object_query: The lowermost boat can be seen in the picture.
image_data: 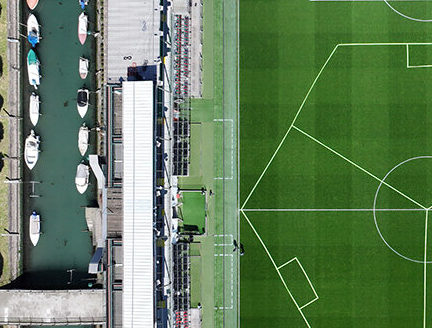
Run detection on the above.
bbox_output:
[29,212,42,247]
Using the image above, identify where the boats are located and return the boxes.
[75,163,90,195]
[29,212,42,247]
[26,14,40,45]
[77,125,89,156]
[29,92,41,127]
[79,55,89,80]
[26,49,42,86]
[27,0,40,12]
[23,136,41,170]
[75,88,89,119]
[78,14,89,45]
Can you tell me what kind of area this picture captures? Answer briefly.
sports ground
